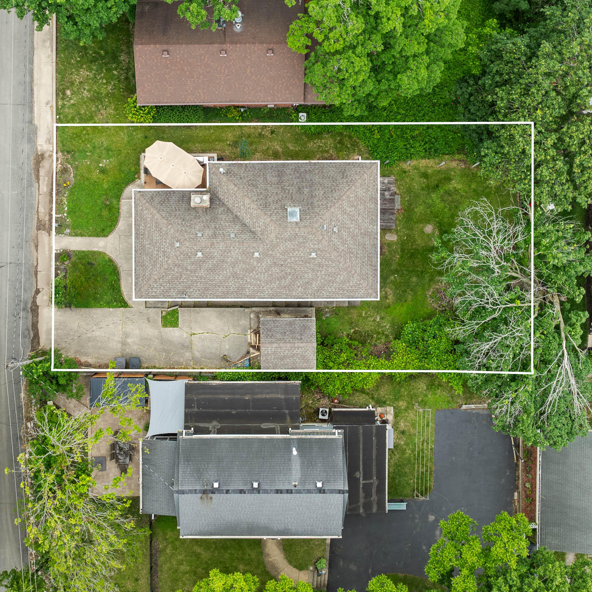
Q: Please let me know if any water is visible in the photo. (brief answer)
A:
No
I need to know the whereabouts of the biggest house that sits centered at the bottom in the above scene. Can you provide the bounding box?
[139,378,388,539]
